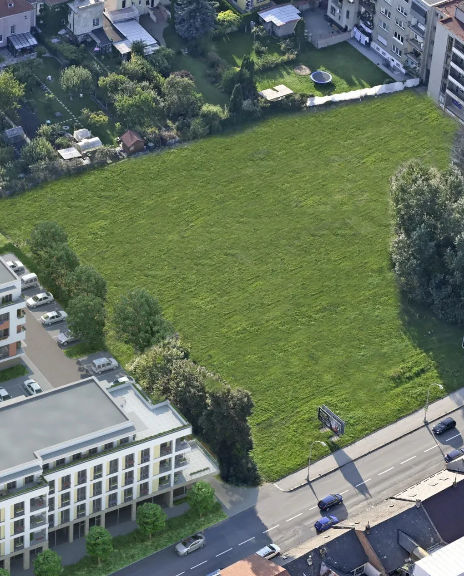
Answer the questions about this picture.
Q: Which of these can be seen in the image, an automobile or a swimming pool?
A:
automobile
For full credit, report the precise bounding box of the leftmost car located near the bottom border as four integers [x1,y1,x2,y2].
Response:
[173,535,206,556]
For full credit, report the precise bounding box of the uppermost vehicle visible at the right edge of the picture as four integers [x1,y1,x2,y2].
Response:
[429,416,459,437]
